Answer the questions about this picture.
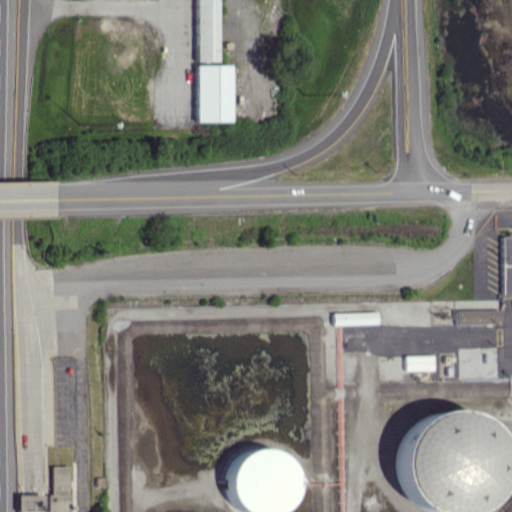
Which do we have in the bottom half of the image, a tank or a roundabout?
tank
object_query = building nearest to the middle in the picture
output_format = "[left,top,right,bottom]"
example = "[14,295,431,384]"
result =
[332,312,381,327]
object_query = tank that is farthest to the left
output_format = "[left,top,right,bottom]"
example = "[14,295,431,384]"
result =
[218,450,309,512]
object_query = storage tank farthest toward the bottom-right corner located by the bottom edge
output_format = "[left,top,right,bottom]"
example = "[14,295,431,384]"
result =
[396,410,512,512]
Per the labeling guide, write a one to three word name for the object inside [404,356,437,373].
shed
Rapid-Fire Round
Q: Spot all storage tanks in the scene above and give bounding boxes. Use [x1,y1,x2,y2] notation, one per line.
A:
[218,450,309,512]
[396,410,512,512]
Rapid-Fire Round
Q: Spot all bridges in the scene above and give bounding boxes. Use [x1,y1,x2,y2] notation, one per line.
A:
[0,182,58,219]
